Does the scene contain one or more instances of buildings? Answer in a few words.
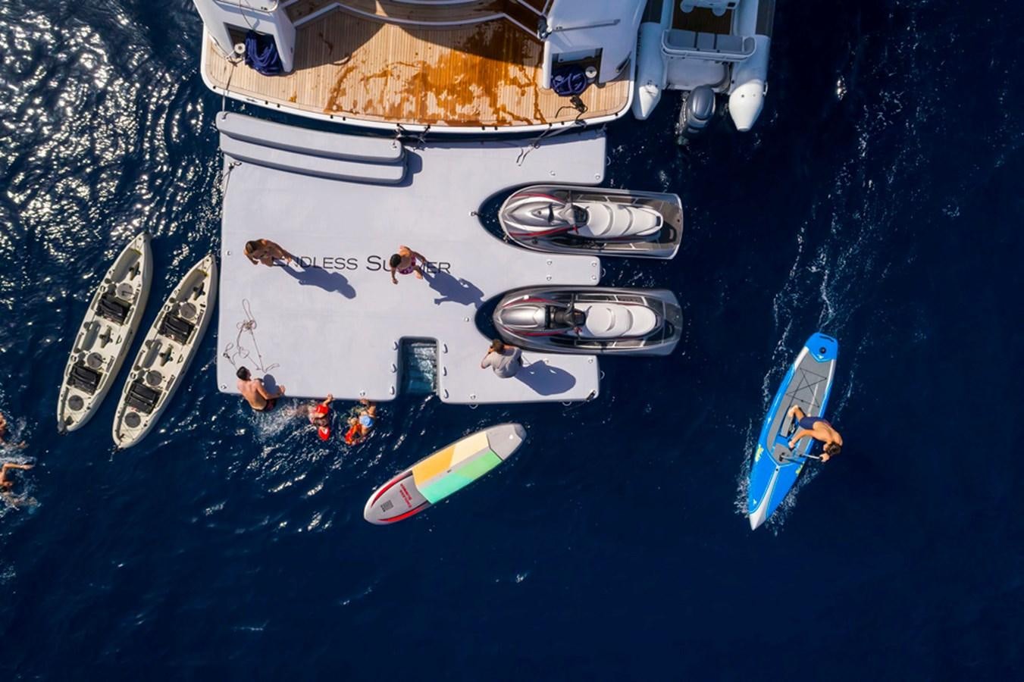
No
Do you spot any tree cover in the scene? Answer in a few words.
No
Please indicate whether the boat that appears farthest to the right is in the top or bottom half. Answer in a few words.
top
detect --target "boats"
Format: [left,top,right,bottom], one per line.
[194,0,646,136]
[51,233,151,440]
[491,283,685,356]
[496,186,685,259]
[108,254,217,456]
[632,0,778,144]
